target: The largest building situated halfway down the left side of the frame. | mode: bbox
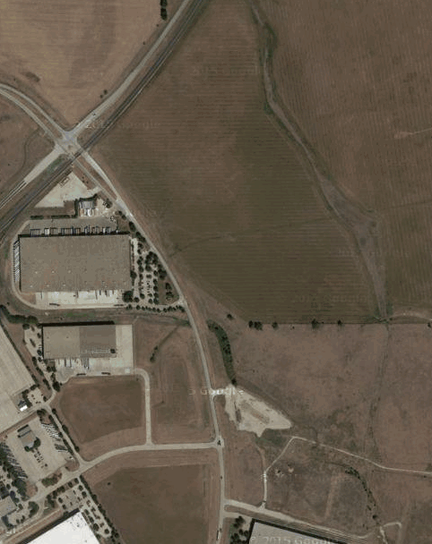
[19,236,131,292]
